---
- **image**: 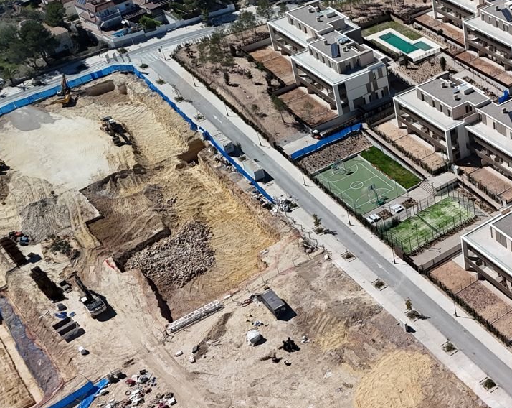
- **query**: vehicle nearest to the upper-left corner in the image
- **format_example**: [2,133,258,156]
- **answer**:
[49,83,77,105]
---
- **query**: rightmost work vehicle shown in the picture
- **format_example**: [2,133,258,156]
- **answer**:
[103,113,120,139]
